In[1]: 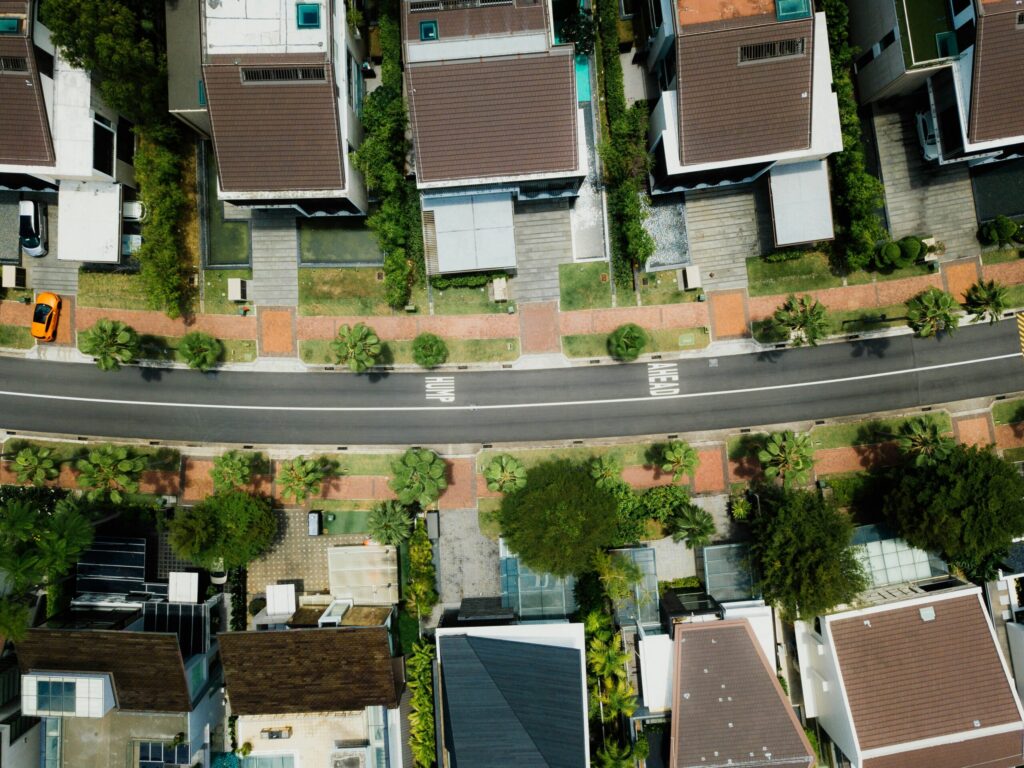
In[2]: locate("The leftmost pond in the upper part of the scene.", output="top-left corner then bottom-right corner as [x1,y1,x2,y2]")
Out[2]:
[204,140,252,268]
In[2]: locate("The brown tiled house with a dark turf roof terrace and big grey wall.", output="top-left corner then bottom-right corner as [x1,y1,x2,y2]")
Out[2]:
[854,0,1024,170]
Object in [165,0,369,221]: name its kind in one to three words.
house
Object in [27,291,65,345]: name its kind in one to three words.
car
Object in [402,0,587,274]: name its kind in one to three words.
house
